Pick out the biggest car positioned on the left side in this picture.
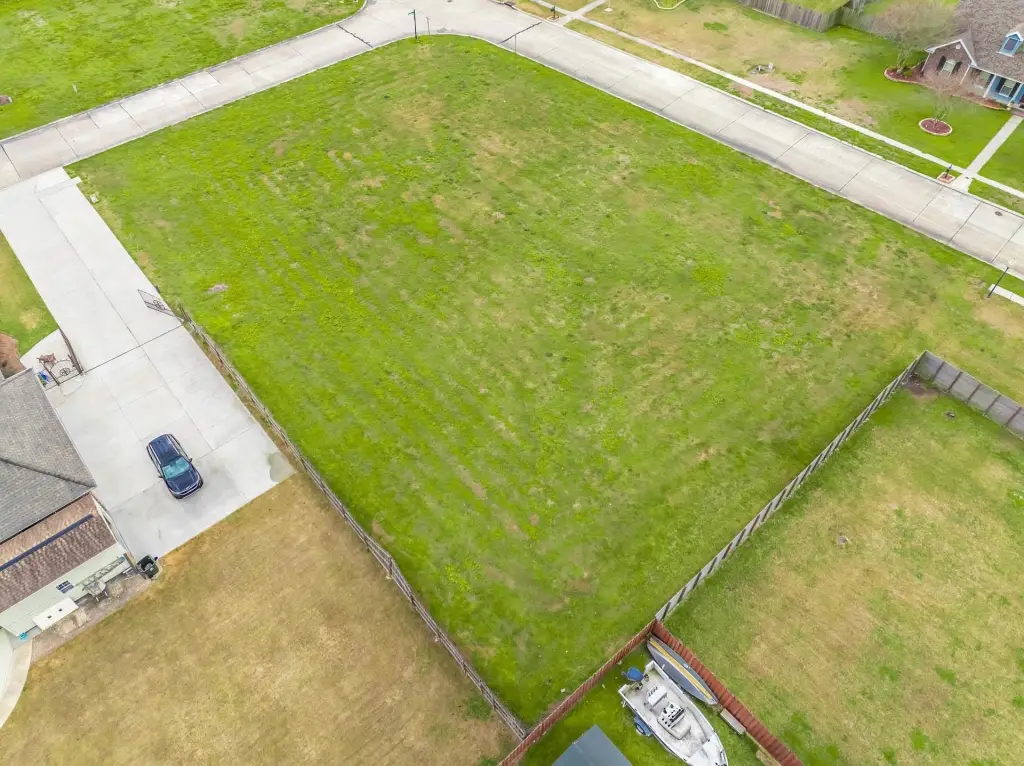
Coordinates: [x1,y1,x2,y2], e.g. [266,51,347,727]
[147,431,202,498]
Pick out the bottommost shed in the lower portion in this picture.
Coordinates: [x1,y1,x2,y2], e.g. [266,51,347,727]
[556,725,631,766]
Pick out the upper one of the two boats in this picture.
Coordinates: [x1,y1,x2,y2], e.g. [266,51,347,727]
[645,637,716,708]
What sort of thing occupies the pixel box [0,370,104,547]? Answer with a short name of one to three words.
house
